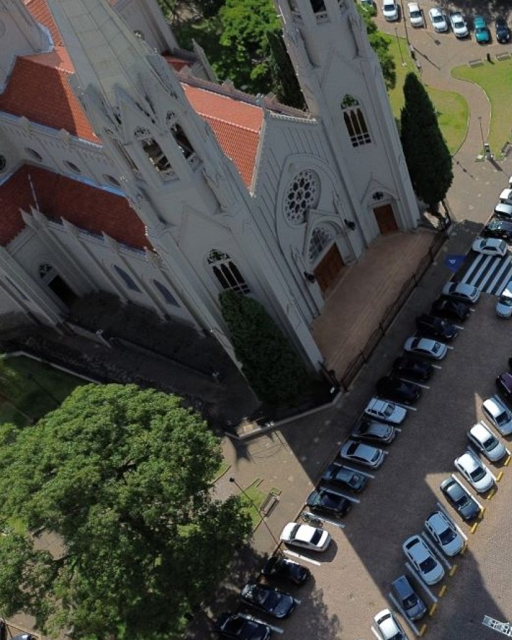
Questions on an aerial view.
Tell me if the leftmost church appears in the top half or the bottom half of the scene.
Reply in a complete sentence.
It is in the top half that the leftmost church appears.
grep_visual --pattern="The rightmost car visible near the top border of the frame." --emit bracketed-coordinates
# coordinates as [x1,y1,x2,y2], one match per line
[495,20,510,44]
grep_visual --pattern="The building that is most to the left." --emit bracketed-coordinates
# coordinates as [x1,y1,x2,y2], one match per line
[0,0,419,371]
